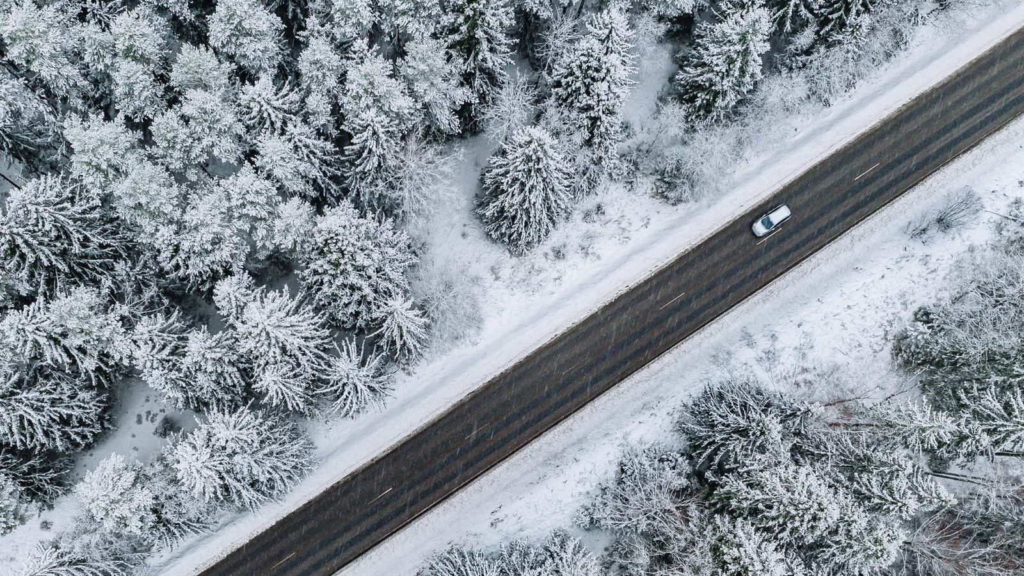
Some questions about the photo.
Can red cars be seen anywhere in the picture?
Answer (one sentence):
No, I can see no red car in this picture.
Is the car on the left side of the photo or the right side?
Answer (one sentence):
You can find the car on the right side of the picture.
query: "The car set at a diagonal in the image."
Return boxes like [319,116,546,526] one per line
[751,200,799,237]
